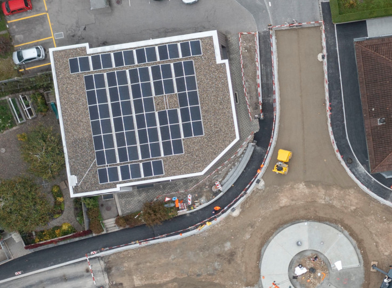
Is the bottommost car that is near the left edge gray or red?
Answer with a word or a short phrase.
gray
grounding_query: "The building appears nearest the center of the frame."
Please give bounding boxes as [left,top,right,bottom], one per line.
[50,31,243,200]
